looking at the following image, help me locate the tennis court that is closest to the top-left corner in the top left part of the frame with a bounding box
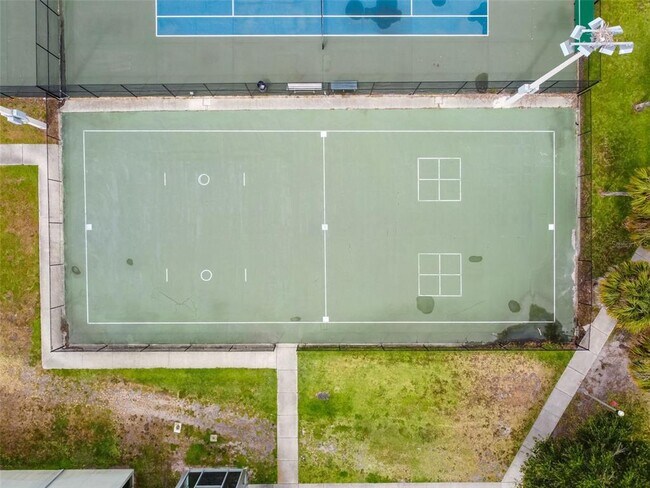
[0,0,60,98]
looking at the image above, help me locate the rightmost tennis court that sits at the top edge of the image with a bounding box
[60,0,578,96]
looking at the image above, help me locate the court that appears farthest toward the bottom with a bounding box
[62,107,577,346]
